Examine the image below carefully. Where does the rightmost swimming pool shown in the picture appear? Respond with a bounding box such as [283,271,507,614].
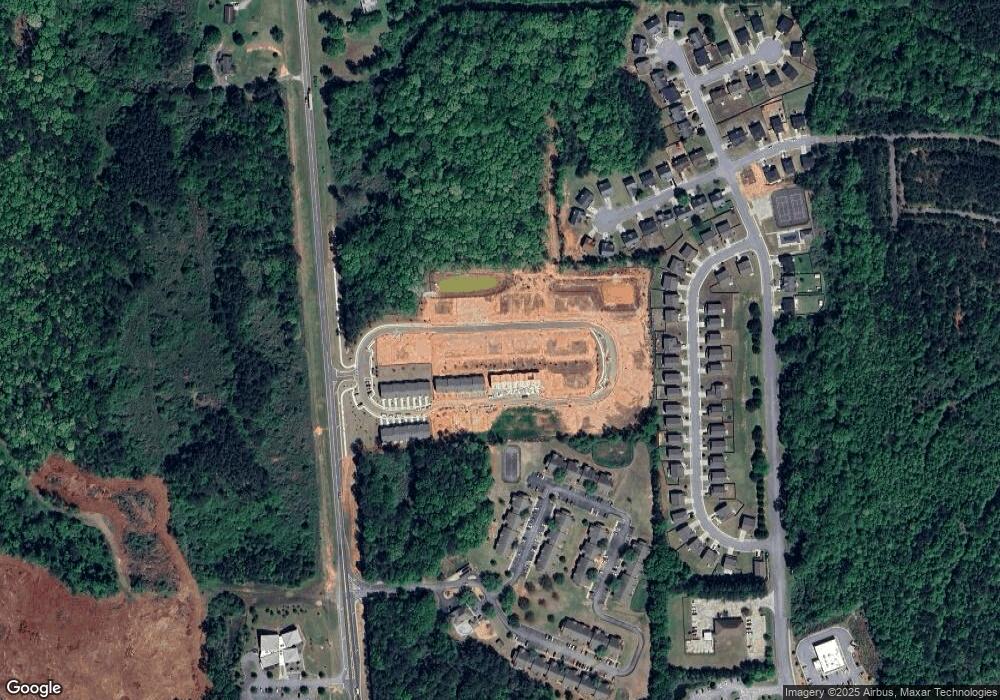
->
[777,230,805,248]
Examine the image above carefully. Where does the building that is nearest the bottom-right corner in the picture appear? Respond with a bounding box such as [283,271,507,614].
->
[814,639,846,673]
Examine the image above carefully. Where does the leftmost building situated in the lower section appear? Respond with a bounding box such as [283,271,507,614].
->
[261,630,303,679]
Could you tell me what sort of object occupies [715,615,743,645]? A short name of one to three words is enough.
building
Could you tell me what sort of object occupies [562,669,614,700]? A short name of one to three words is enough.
building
